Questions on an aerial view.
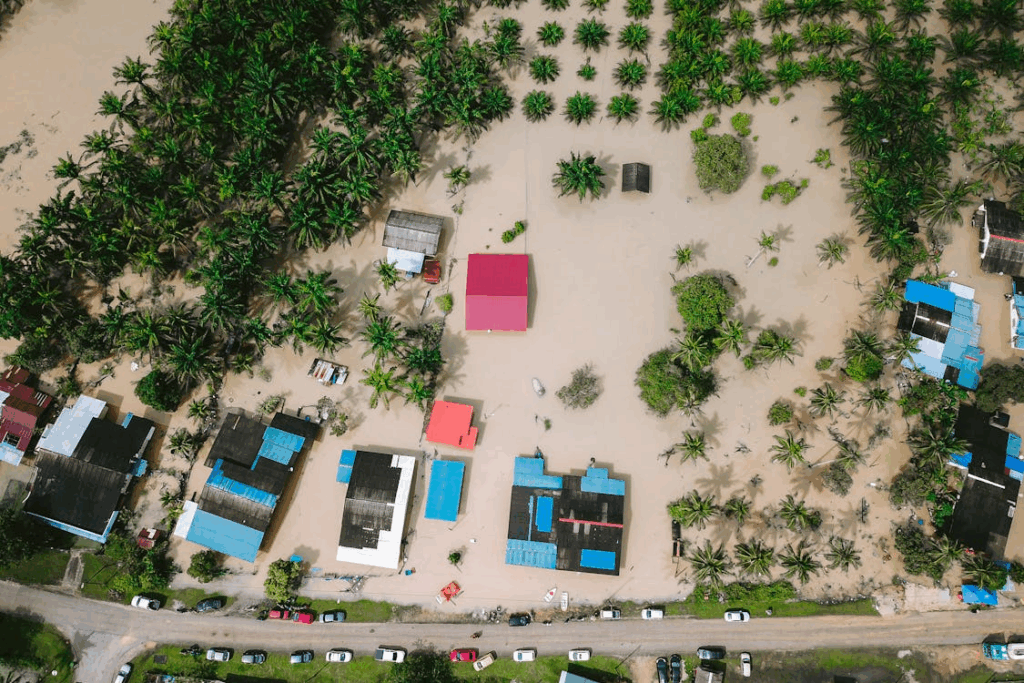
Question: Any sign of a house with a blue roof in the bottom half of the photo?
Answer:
Yes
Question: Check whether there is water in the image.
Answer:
Yes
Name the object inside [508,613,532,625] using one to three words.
vehicle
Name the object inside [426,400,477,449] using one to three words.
house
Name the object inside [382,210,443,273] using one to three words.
house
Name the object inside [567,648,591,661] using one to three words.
vehicle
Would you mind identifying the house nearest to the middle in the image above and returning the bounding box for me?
[466,254,528,333]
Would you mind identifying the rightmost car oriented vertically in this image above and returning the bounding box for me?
[738,649,752,677]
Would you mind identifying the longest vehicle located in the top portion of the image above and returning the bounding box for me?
[425,256,439,286]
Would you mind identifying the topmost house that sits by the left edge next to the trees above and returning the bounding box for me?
[0,365,60,466]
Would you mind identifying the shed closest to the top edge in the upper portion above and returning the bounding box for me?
[622,162,649,193]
